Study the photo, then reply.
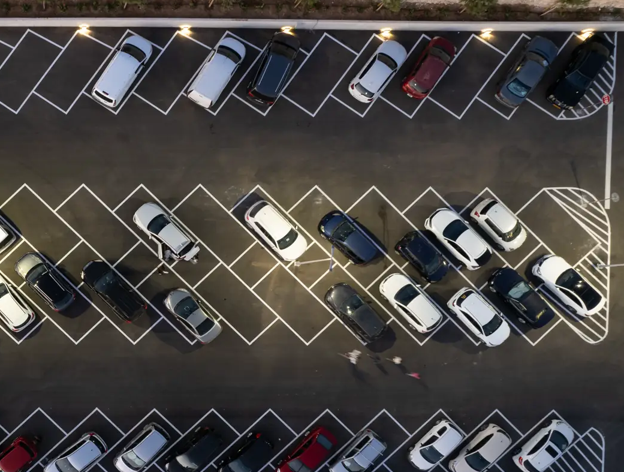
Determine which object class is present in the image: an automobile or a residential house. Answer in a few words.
automobile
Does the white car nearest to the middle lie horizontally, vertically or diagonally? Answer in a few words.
diagonally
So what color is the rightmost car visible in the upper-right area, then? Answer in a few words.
black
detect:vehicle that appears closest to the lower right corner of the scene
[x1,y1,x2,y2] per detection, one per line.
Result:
[510,417,575,472]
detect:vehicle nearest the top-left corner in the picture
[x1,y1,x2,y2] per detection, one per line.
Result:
[92,36,148,111]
